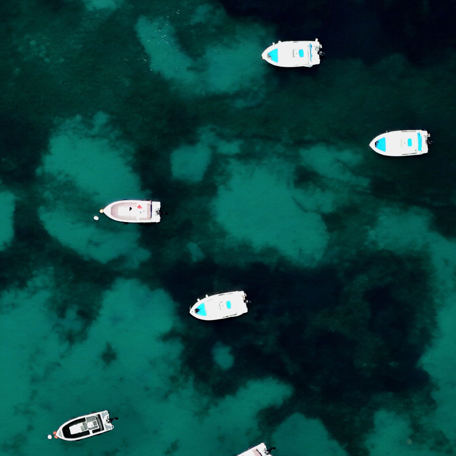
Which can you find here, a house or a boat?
boat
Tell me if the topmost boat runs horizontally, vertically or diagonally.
horizontally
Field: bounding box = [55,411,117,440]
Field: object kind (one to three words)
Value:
boat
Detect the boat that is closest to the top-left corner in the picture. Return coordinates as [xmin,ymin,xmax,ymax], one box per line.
[103,200,167,222]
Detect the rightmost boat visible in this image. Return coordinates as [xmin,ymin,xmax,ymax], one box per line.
[369,131,433,156]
